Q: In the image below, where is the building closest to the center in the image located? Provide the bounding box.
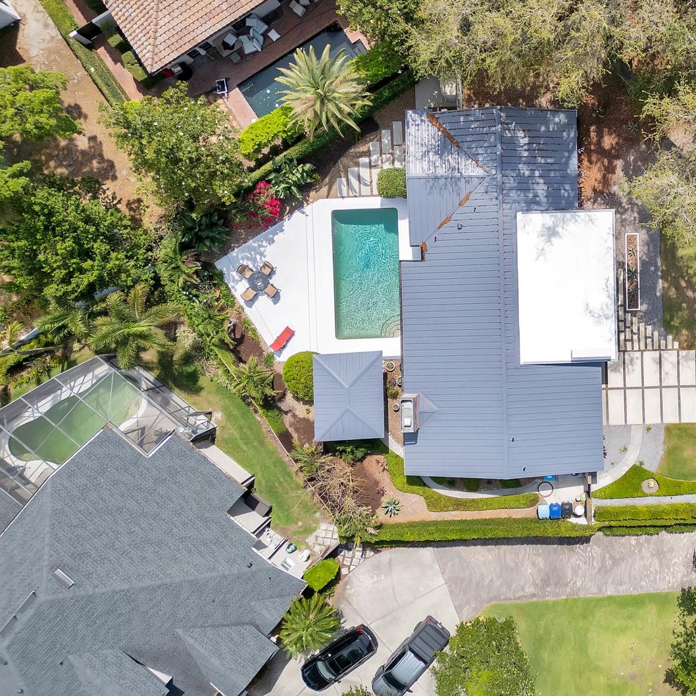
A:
[313,350,390,443]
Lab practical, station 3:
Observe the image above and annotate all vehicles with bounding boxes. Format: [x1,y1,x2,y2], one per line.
[367,613,451,696]
[300,621,381,694]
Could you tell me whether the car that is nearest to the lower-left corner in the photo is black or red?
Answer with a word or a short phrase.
black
